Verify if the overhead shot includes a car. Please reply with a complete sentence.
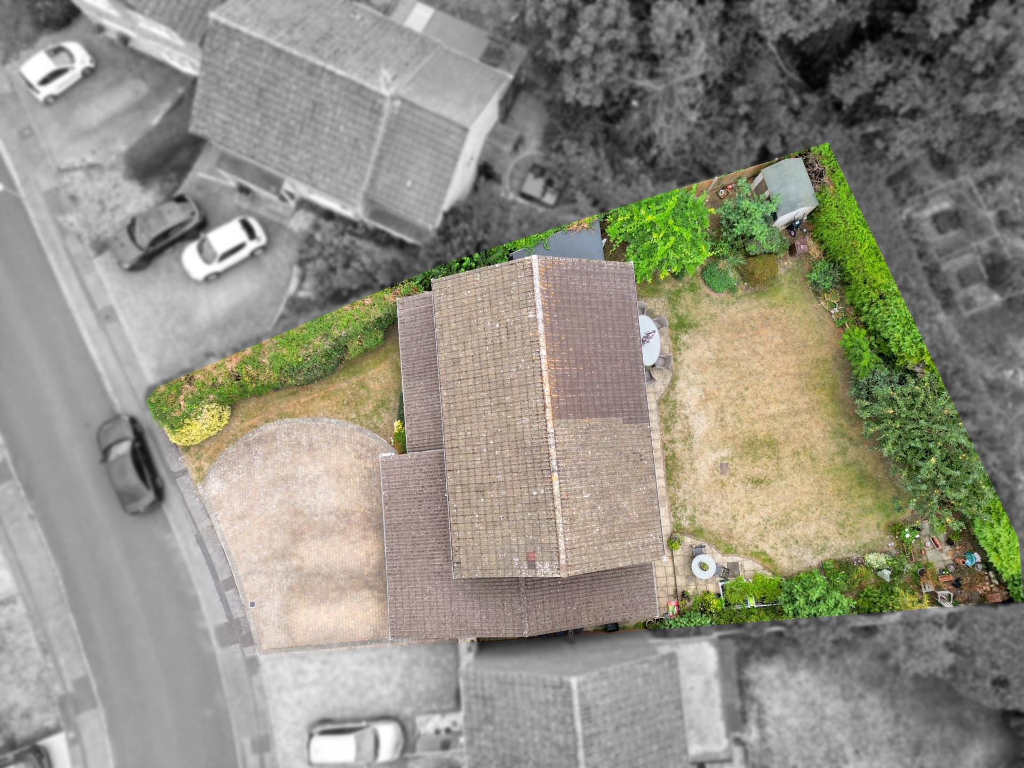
Yes, there's a car here.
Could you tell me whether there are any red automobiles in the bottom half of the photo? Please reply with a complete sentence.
No, no red automobile appears in the bottom half of the photo.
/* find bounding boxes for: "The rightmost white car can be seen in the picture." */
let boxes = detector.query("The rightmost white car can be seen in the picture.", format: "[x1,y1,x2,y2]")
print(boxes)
[308,718,404,768]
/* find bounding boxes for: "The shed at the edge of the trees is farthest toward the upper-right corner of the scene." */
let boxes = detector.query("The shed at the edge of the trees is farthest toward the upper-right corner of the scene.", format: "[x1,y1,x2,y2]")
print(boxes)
[748,158,819,229]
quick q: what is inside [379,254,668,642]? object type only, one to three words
house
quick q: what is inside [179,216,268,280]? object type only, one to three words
car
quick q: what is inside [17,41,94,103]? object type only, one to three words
car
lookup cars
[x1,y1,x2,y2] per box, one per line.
[0,727,62,768]
[99,414,167,516]
[114,191,208,272]
[17,41,94,103]
[179,216,268,280]
[308,718,404,768]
